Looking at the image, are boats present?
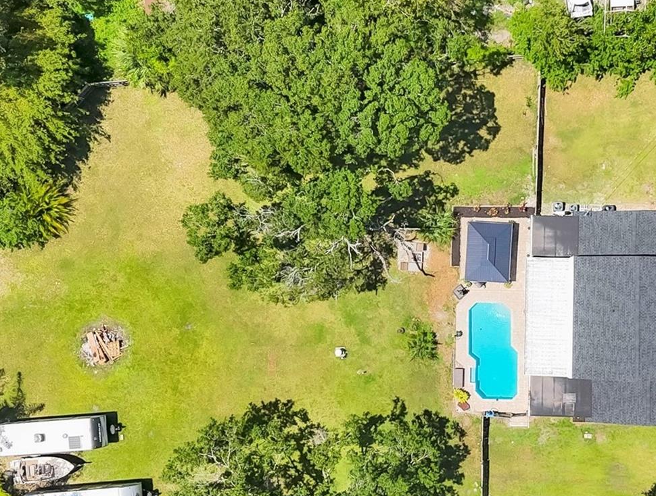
Yes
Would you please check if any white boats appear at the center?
No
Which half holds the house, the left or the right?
right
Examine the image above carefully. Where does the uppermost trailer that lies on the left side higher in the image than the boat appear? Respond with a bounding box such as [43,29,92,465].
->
[0,414,129,456]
